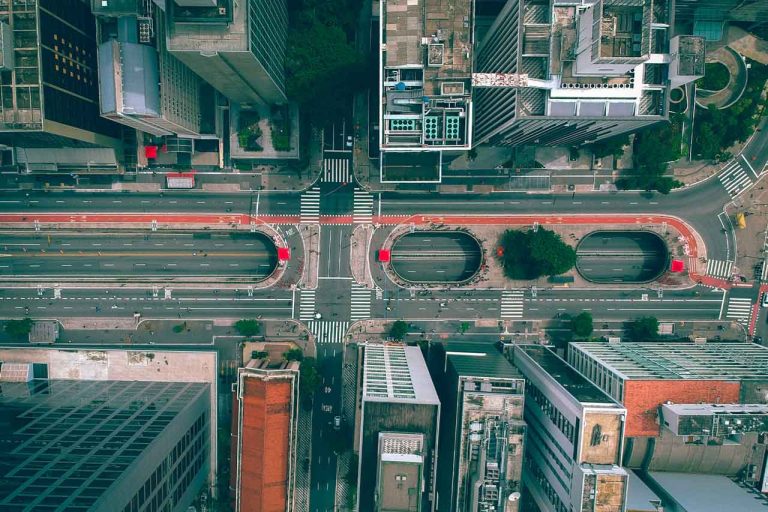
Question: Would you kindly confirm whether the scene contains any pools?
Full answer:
No, the photo shows no pool.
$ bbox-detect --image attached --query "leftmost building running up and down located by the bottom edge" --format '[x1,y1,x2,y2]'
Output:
[228,345,305,512]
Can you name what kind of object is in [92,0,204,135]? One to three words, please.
building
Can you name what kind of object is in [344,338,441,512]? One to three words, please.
building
